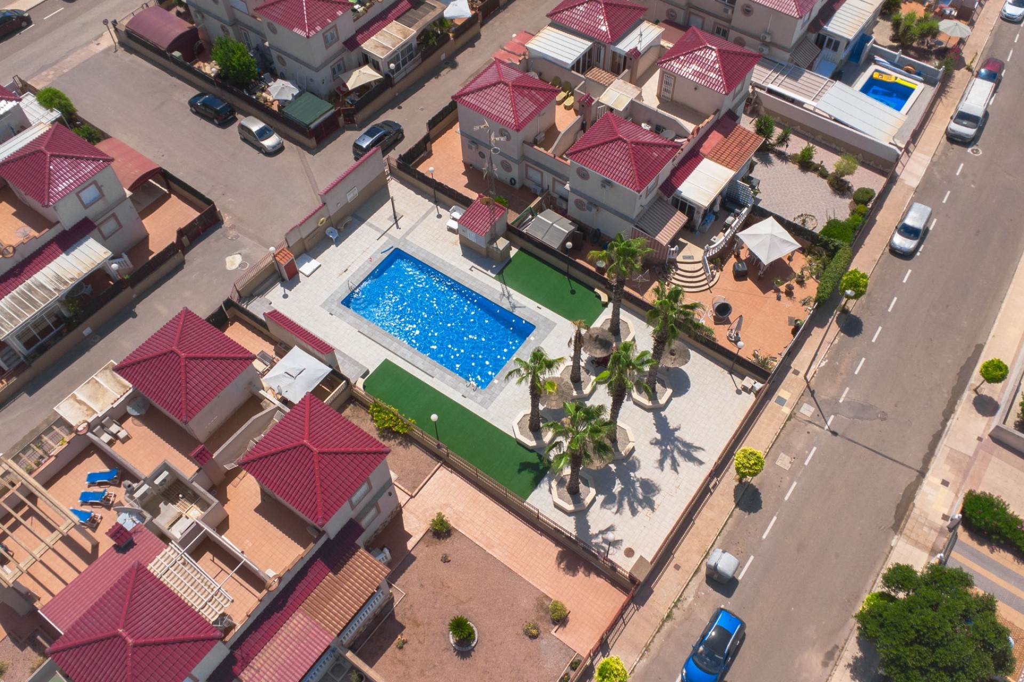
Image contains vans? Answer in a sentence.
Yes, I can see a van in this picture.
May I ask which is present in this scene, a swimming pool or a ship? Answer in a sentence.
Visible in the photo is a swimming pool.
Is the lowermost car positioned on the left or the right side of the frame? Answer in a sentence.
The lowermost car sits on the right side.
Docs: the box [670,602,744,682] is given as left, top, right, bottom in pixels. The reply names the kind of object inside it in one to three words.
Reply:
car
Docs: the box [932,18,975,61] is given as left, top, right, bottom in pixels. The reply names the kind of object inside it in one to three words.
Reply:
umbrella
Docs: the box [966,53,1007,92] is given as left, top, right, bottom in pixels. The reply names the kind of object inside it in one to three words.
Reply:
car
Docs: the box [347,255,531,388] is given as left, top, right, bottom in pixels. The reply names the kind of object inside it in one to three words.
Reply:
swimming pool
